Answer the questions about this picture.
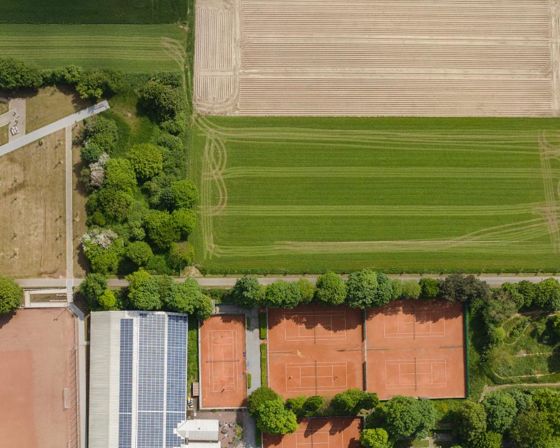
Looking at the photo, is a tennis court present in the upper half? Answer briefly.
No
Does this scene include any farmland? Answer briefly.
Yes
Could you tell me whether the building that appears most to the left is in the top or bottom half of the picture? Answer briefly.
bottom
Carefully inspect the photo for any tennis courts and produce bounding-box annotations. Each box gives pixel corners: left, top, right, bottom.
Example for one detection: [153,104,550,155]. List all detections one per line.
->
[367,348,468,400]
[367,301,467,350]
[269,354,366,399]
[262,415,364,448]
[200,314,247,408]
[267,306,364,355]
